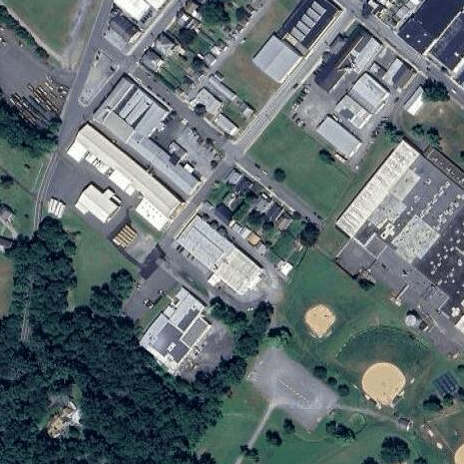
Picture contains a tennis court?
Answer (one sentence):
No, there's no tennis court here.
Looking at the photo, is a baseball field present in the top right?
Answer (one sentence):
No, I can find no baseball field in the top right.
